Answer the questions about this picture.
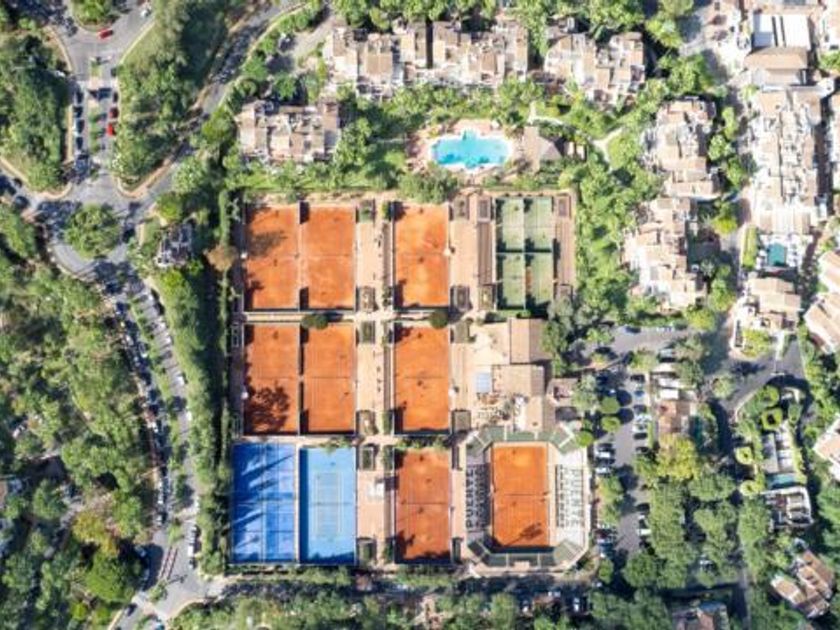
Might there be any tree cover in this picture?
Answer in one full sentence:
Yes, tree cover can be seen from above here.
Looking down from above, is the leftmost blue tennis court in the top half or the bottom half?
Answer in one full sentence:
The bottom half of the photo is where the leftmost blue tennis court is.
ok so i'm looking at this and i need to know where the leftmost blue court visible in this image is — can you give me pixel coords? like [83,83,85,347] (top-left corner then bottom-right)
[231,443,298,566]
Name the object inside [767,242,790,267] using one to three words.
swimming pool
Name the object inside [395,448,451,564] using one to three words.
tennis court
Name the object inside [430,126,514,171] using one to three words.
swimming pool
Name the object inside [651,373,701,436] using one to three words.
building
